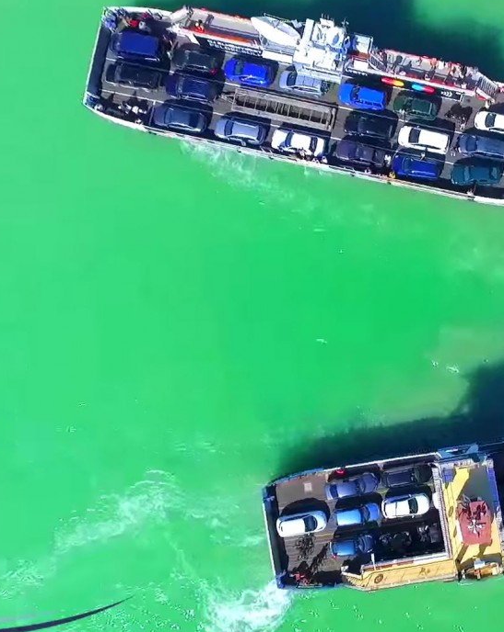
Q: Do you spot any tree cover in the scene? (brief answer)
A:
No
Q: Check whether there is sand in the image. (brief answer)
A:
No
